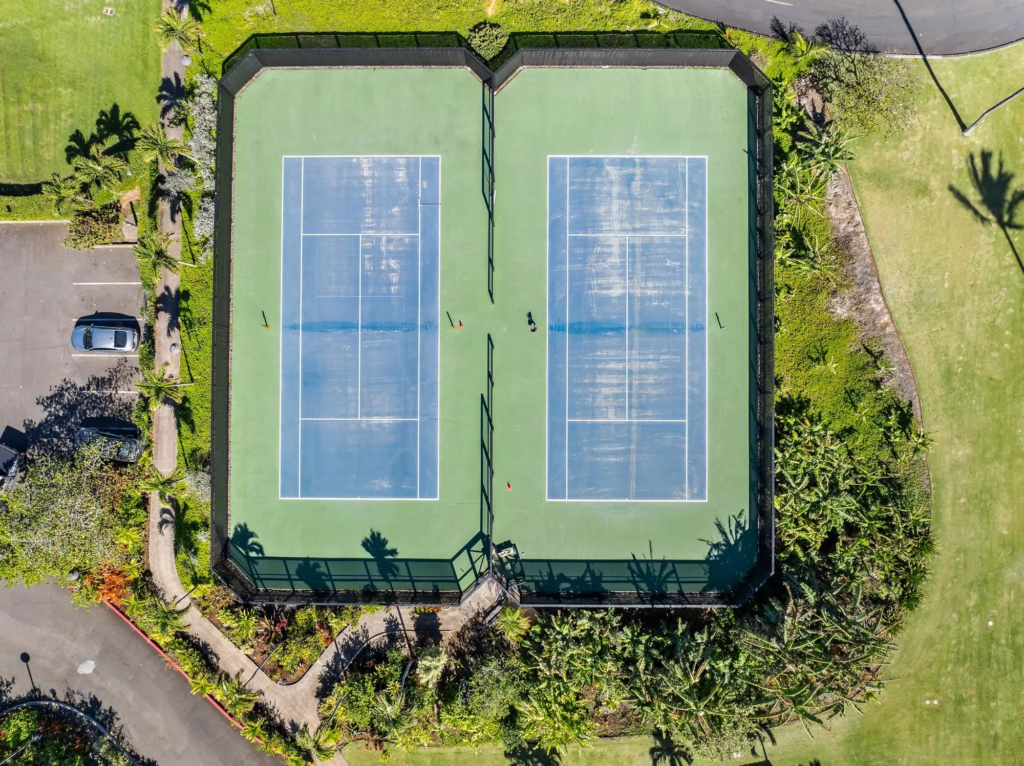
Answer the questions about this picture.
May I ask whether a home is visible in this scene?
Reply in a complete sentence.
No, no home is visible in the view.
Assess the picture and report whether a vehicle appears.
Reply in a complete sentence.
Yes, a vehicle appears in the view.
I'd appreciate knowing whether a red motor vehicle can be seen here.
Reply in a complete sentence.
No, the frame has no red motor vehicle in it.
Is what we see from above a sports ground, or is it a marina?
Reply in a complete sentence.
This image shows a sports ground.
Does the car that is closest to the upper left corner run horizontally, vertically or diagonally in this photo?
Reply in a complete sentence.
The car that is closest to the upper left corner runs horizontally in the image.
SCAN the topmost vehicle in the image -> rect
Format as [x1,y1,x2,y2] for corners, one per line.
[67,317,138,349]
